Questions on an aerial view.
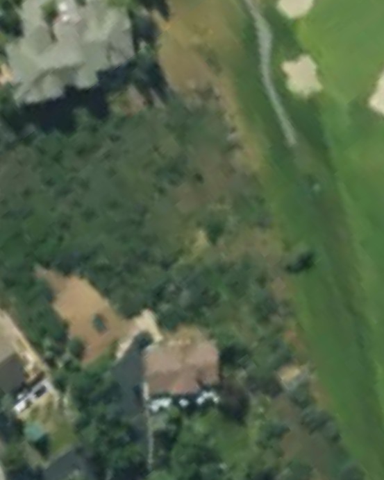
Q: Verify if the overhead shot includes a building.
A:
Yes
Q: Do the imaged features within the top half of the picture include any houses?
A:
Yes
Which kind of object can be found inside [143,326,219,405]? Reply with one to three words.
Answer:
house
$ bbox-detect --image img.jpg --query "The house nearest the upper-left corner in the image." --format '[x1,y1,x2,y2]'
[0,2,138,105]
